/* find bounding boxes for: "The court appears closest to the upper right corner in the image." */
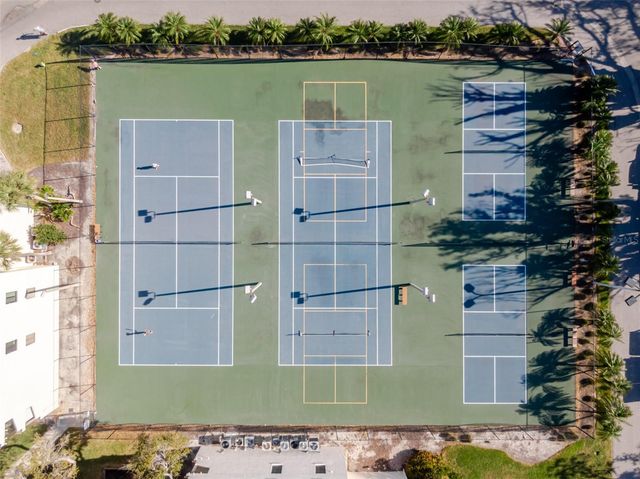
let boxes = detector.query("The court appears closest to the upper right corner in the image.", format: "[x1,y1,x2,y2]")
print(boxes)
[462,81,526,221]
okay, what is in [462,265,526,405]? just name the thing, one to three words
sports court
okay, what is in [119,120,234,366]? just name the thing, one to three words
tennis court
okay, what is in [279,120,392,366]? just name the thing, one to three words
tennis court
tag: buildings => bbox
[182,446,350,479]
[0,203,59,444]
